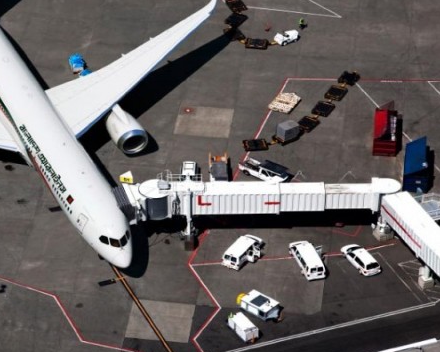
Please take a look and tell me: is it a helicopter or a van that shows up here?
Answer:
van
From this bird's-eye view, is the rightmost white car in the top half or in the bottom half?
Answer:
bottom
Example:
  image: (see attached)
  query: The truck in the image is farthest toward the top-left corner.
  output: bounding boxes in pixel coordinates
[63,50,86,74]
